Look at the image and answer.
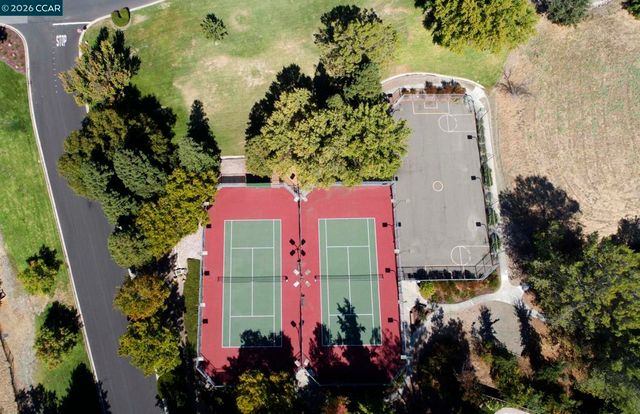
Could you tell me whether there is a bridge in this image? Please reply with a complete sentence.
No, there's no bridge here.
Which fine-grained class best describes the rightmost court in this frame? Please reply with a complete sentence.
It turns out the rightmost court is a basketball court.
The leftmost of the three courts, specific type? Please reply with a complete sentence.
I'd say the leftmost of the three courts is a tennis court.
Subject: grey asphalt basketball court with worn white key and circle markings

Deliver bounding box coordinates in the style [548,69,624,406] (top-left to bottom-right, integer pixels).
[390,96,493,281]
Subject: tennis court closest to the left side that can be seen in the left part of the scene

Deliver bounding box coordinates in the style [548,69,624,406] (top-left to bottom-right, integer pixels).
[201,187,302,385]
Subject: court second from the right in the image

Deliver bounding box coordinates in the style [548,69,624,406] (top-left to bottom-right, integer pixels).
[299,184,402,382]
